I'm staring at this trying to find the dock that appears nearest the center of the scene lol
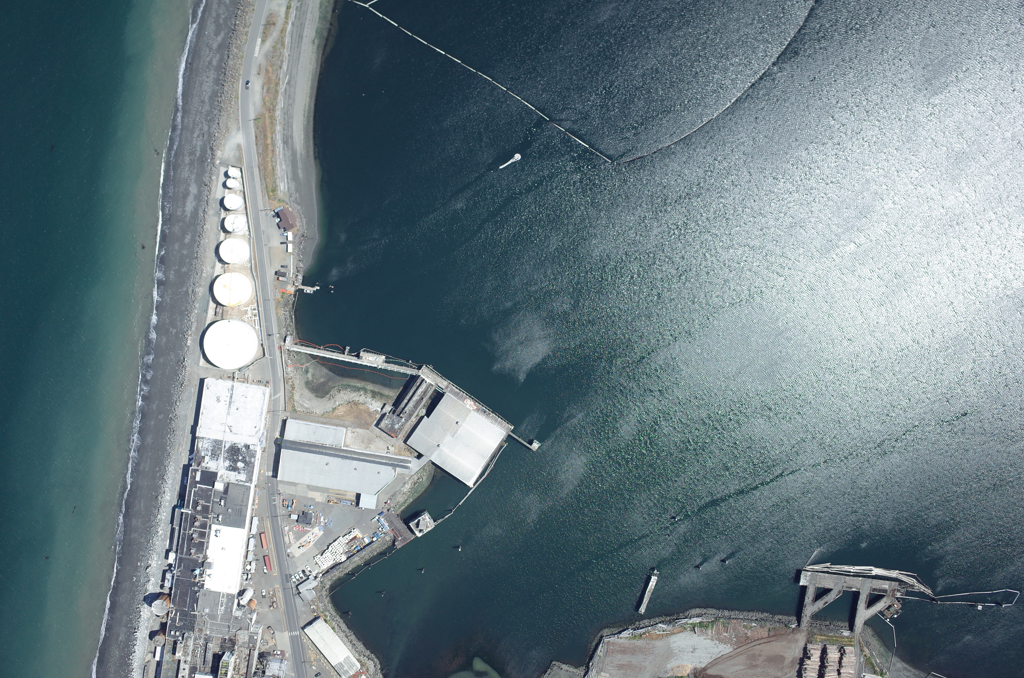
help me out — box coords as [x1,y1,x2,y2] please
[407,366,513,485]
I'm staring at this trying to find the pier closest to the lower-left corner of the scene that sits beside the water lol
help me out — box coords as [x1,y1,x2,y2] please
[381,508,415,548]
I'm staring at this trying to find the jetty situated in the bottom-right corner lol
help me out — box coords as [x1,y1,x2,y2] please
[799,570,898,633]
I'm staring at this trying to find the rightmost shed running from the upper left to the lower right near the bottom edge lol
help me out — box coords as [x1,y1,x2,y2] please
[304,617,363,678]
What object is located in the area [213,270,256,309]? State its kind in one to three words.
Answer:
storage tank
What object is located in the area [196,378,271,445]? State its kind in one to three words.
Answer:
building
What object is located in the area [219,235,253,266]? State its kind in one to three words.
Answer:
storage tank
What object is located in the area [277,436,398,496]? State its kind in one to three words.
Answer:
building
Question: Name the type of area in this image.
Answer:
port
